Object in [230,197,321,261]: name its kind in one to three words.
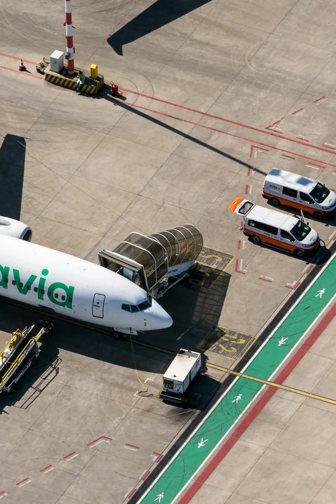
van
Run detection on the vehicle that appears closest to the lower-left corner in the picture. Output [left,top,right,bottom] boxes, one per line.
[0,313,52,396]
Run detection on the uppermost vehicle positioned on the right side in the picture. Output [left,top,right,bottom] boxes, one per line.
[263,167,336,218]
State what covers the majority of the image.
paved ground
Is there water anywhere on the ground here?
No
